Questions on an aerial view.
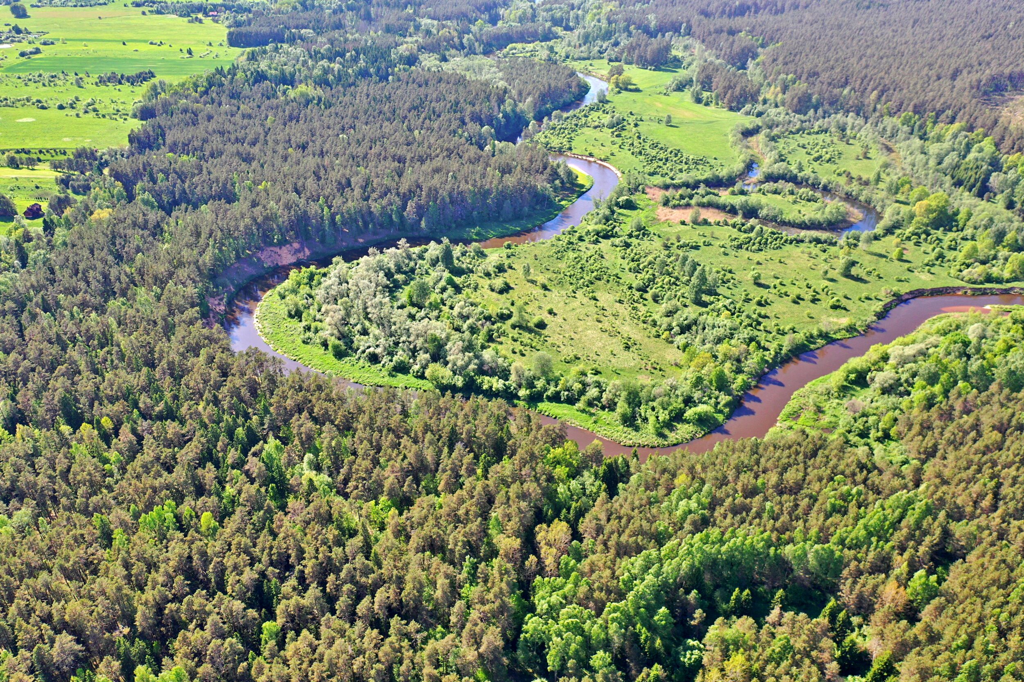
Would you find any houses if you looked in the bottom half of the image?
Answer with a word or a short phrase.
No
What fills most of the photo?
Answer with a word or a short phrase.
trees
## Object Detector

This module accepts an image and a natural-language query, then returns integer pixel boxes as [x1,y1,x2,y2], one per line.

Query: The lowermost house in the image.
[17,200,45,224]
